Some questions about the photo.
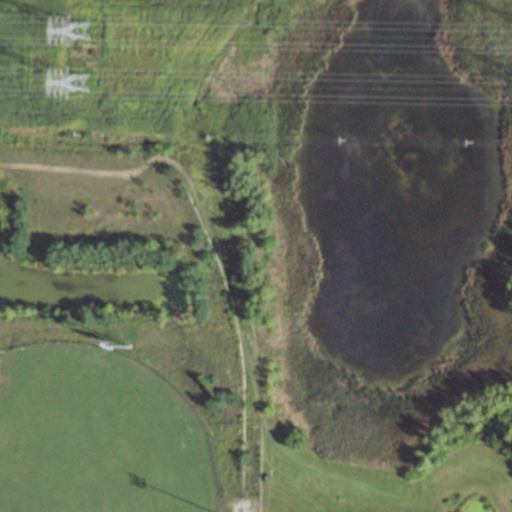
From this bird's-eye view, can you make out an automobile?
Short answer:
No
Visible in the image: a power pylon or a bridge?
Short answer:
power pylon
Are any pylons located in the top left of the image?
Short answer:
Yes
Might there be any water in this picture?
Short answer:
Yes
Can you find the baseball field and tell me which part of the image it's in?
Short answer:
bottom left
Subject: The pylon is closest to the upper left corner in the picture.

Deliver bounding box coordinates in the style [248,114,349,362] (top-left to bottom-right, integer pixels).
[46,15,90,45]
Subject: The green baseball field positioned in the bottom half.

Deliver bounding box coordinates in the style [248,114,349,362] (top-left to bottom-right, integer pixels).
[0,342,220,512]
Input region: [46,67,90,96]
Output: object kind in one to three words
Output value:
pylon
